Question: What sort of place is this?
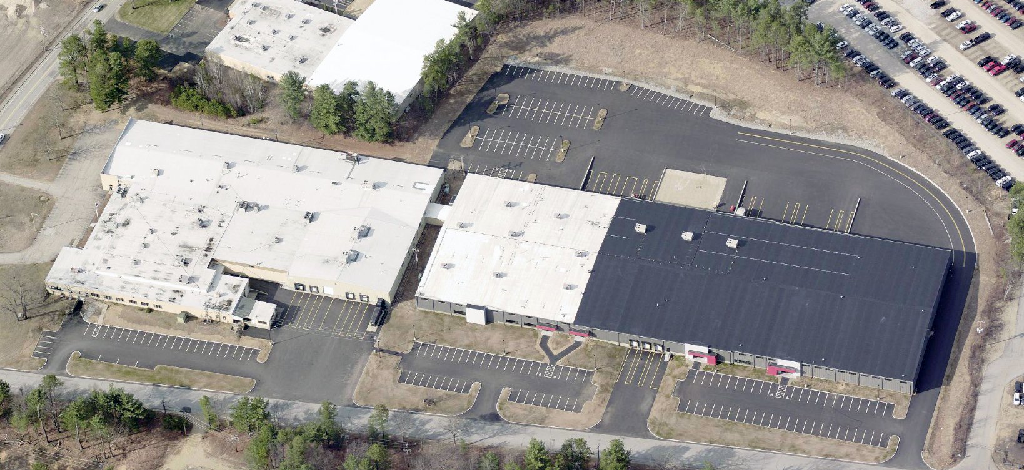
industrial area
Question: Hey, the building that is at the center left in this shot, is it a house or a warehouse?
warehouse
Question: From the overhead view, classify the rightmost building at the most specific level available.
warehouse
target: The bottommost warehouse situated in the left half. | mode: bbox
[45,116,452,337]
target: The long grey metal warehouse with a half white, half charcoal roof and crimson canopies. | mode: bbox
[415,172,951,395]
